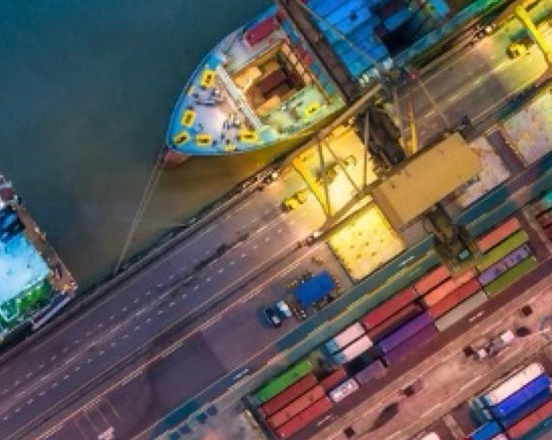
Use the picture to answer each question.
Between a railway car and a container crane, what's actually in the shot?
container crane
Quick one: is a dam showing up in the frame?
No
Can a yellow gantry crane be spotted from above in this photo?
Yes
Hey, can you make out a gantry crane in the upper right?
Yes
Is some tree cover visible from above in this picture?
No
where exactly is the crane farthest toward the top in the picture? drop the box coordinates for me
[476,0,552,99]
